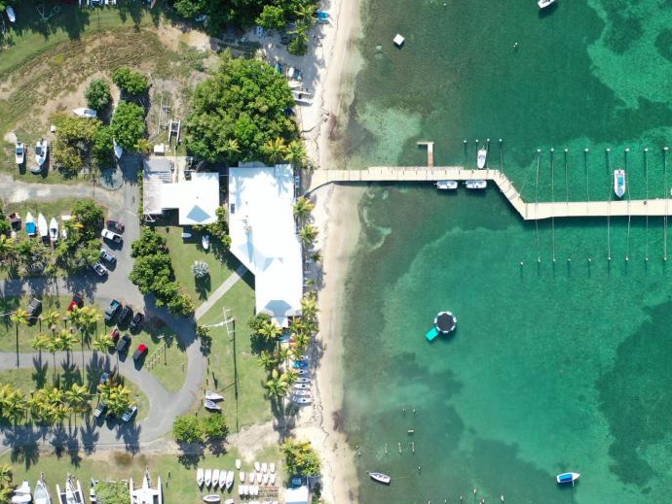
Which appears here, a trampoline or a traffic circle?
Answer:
trampoline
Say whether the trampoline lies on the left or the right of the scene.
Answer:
right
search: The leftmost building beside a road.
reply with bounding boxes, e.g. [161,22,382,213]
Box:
[143,157,221,225]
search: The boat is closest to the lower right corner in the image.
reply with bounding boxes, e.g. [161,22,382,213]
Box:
[556,474,578,488]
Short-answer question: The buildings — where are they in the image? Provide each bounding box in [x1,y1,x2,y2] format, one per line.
[285,477,321,504]
[143,157,221,225]
[228,162,302,327]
